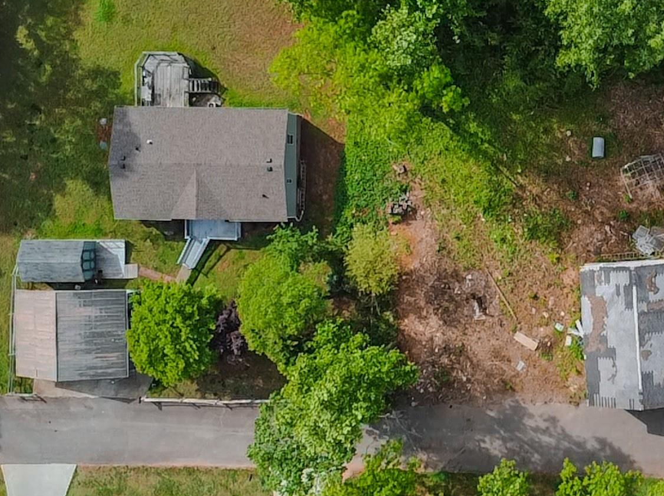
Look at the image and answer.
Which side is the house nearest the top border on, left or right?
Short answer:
left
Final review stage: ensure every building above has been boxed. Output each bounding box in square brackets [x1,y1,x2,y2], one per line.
[12,241,104,282]
[579,261,664,416]
[14,289,147,385]
[106,106,301,222]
